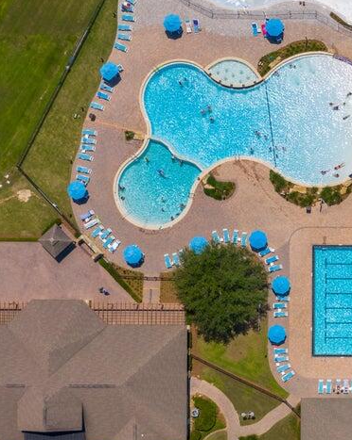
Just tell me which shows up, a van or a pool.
pool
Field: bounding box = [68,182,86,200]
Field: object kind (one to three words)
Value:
umbrella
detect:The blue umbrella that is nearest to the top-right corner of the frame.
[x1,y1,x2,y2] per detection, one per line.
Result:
[265,19,283,37]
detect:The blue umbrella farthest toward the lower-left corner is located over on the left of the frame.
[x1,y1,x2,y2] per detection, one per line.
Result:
[124,247,142,264]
